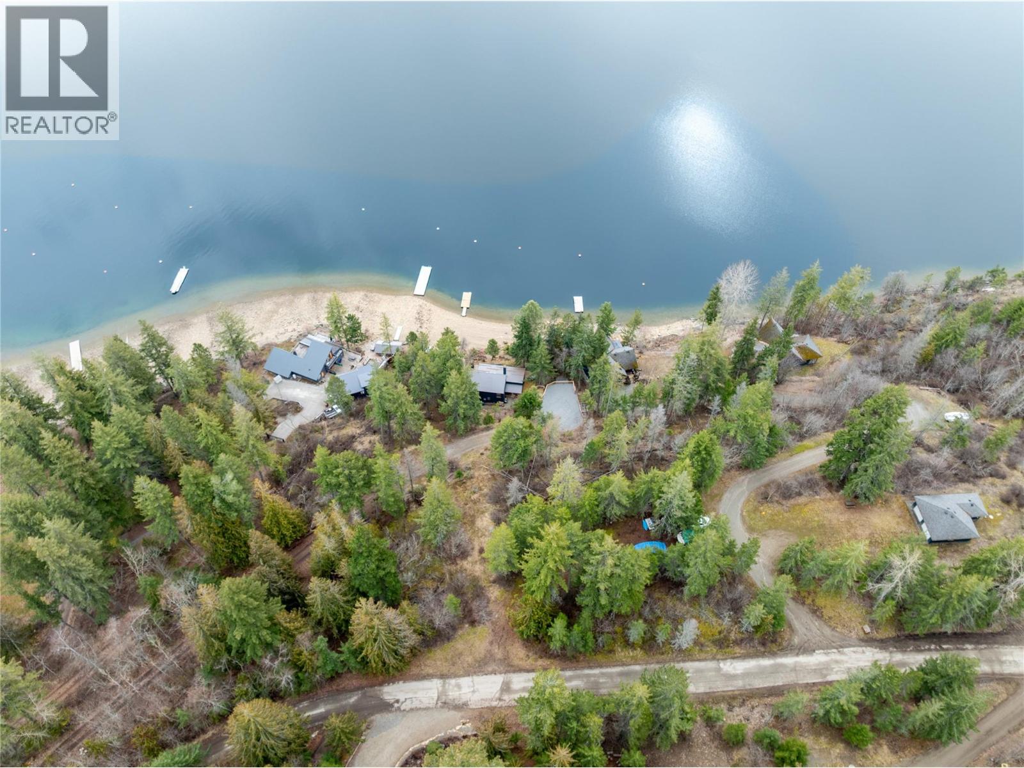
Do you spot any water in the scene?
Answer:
Yes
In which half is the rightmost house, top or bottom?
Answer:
bottom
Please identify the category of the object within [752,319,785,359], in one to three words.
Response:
house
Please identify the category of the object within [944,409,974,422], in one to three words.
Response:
vehicle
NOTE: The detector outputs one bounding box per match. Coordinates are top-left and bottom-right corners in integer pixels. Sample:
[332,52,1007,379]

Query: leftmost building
[264,337,332,387]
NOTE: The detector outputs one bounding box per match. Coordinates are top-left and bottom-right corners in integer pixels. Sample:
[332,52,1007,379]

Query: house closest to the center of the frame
[472,364,525,406]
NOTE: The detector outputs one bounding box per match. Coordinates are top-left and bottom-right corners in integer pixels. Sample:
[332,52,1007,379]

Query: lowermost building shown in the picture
[907,493,988,548]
